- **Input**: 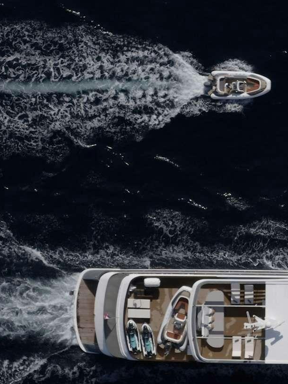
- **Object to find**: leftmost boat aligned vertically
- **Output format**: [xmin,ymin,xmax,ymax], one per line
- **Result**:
[127,320,141,354]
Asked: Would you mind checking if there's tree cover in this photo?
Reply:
No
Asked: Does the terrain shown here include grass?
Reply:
No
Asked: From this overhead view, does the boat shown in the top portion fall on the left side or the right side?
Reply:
right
